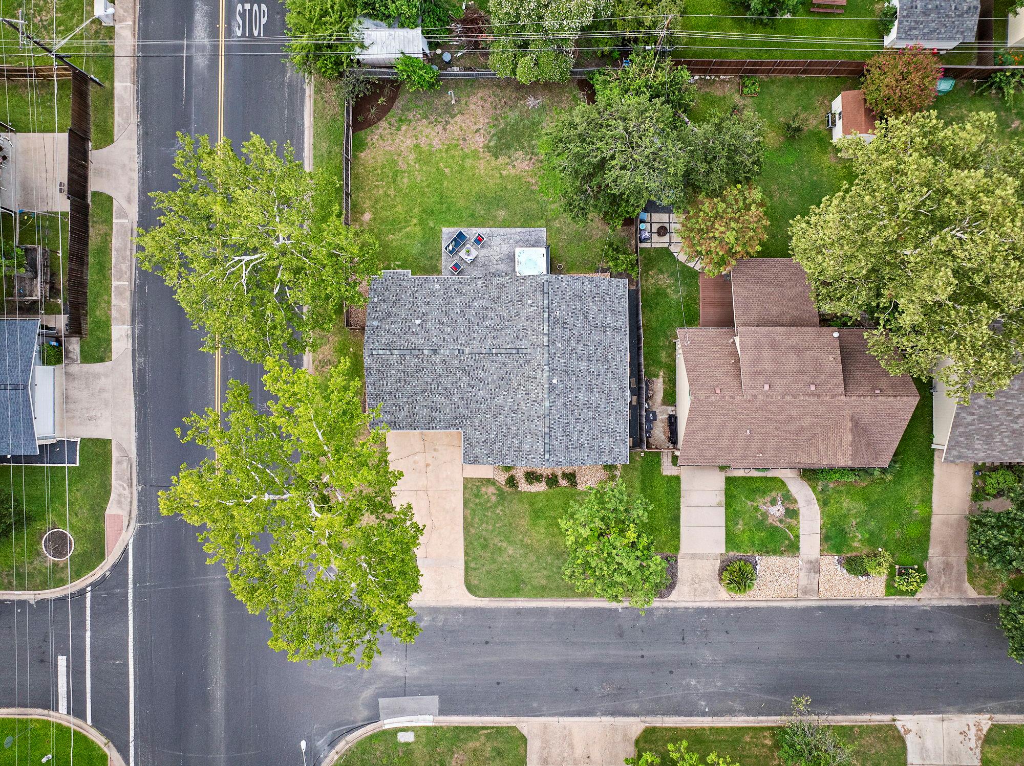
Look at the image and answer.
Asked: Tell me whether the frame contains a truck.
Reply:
No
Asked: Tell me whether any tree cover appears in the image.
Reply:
Yes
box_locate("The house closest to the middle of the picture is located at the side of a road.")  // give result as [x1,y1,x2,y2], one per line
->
[365,269,633,467]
